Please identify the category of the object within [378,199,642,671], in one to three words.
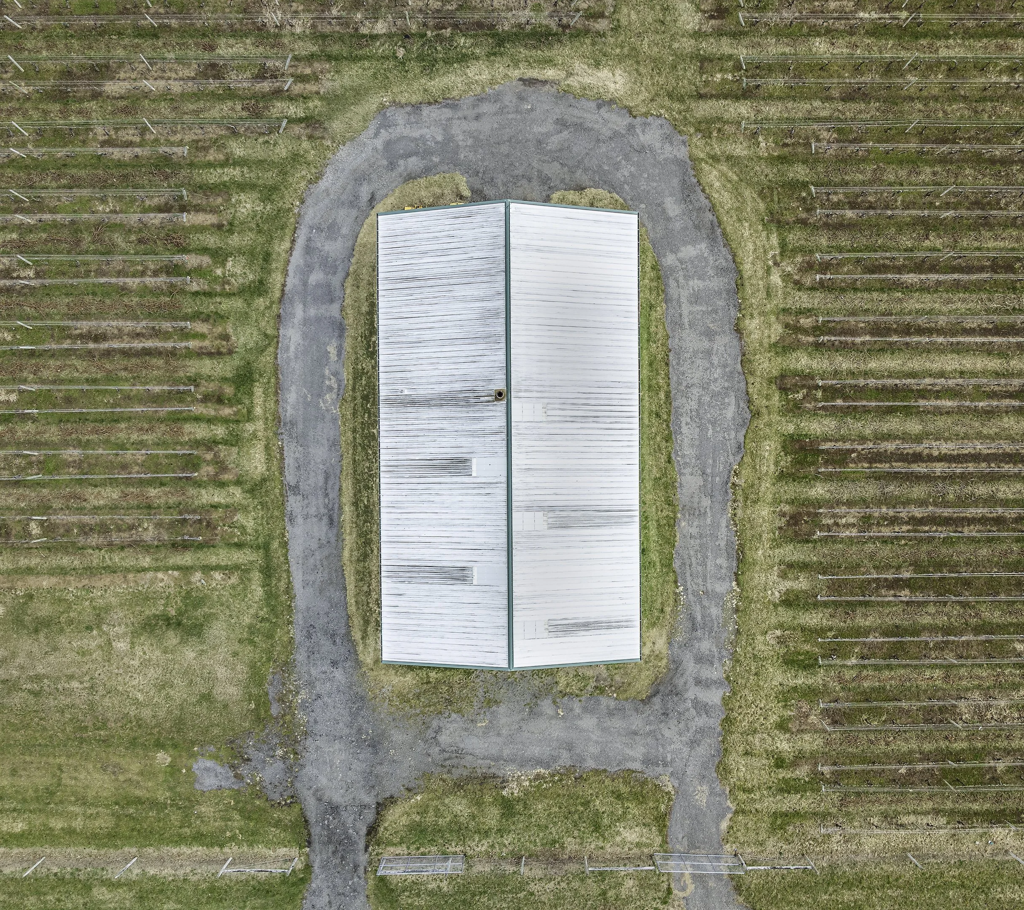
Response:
shed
